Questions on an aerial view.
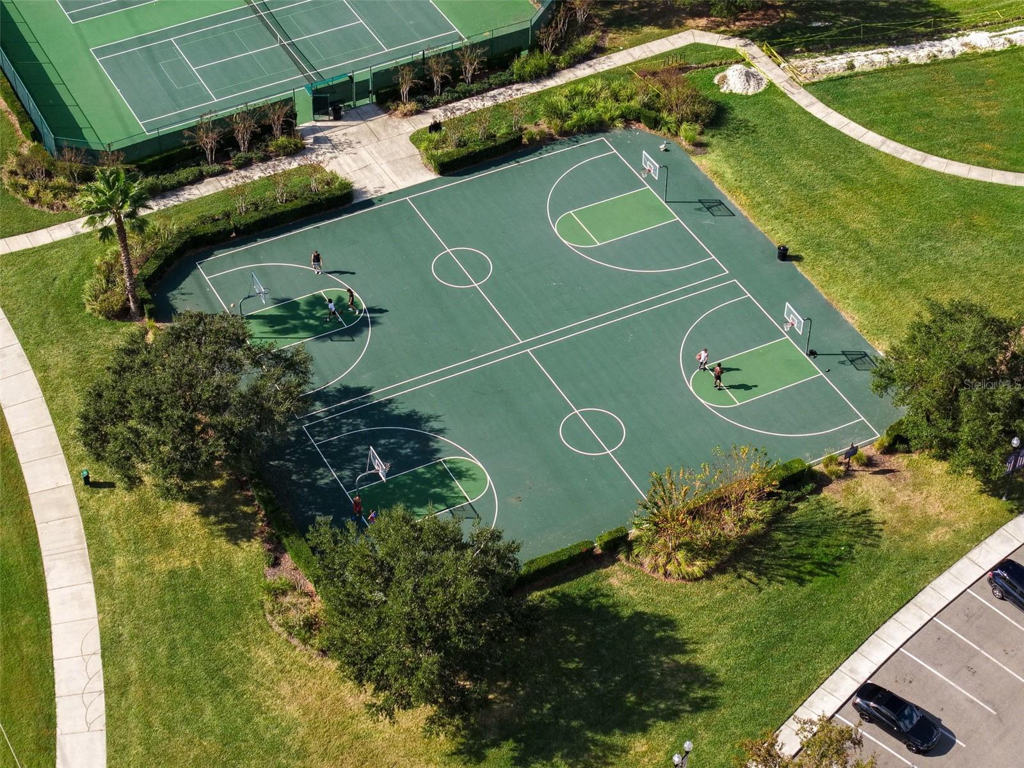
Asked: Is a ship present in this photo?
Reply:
No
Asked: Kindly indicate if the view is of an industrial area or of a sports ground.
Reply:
sports ground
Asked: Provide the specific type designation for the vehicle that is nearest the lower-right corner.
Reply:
car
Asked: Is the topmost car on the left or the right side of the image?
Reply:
right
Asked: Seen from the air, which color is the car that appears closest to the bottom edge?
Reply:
black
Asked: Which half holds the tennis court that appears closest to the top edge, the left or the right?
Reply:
left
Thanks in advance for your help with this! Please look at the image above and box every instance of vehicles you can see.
[854,683,952,757]
[989,560,1024,611]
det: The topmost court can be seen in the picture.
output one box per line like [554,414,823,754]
[57,0,160,23]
